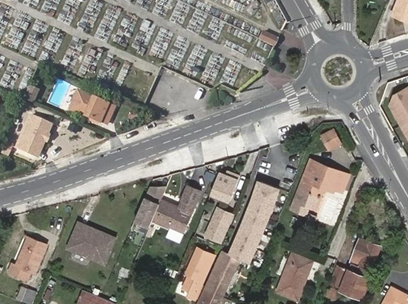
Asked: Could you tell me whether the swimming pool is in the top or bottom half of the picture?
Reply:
top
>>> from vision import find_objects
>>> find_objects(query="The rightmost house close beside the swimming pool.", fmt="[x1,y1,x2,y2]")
[68,90,118,126]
